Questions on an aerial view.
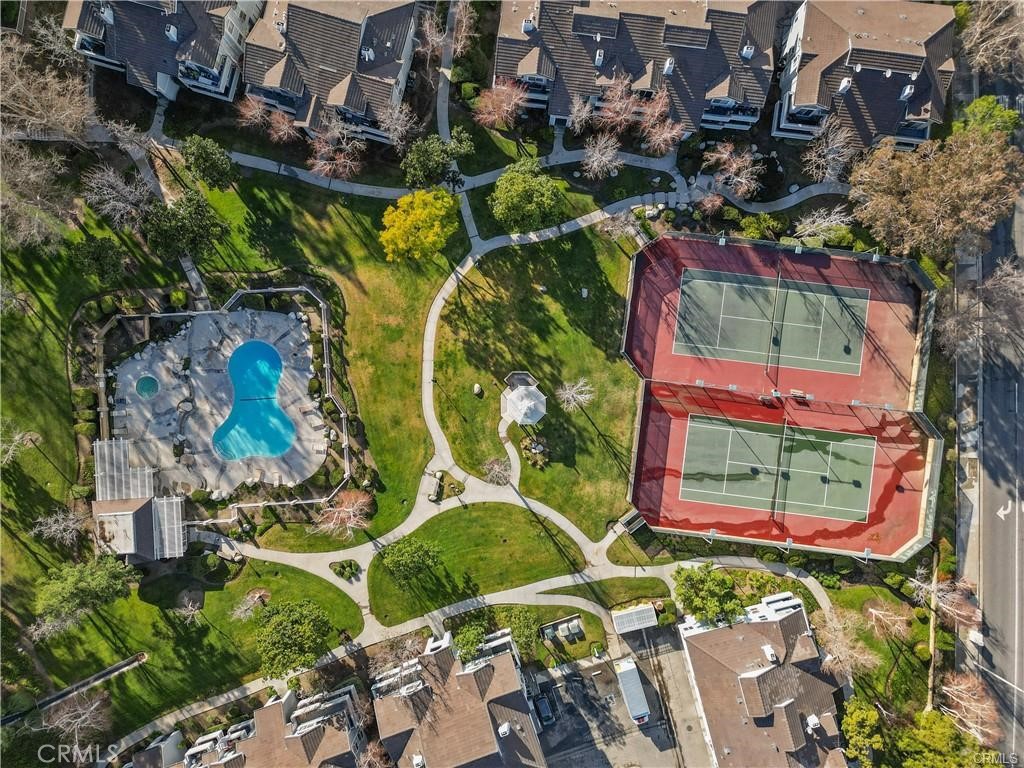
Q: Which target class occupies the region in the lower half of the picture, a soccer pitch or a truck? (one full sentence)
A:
There is a truck in the lower half of the picture.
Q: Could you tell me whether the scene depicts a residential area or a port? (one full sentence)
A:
This looks like a residential area.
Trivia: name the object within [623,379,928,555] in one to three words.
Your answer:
tennis court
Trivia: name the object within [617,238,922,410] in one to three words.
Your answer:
tennis court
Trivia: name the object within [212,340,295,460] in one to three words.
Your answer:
swimming pool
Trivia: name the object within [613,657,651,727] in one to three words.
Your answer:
truck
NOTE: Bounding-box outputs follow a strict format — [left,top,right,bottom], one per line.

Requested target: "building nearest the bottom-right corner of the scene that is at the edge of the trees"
[674,588,846,768]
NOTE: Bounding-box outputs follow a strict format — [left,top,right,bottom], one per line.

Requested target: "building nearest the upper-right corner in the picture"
[768,0,956,152]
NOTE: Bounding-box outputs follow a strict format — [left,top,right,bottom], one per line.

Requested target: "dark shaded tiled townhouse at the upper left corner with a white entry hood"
[63,0,244,111]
